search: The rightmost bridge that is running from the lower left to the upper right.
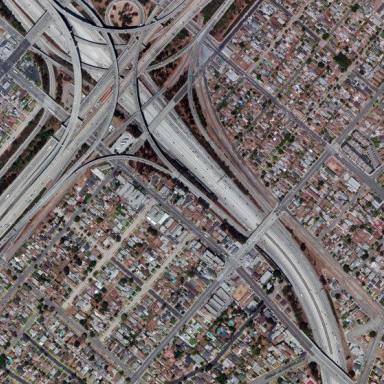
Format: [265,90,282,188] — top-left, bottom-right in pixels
[230,202,284,260]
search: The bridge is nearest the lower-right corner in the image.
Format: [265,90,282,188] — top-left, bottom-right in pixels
[302,339,359,384]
